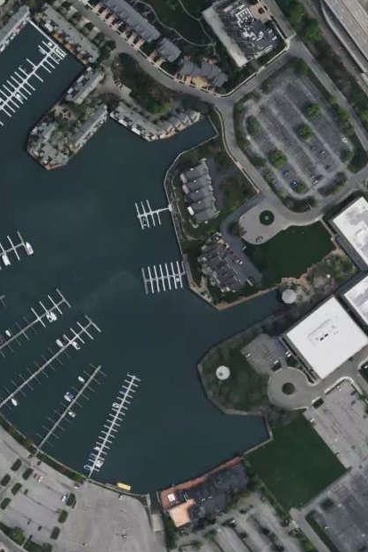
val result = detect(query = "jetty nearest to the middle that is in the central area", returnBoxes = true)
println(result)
[142,261,185,294]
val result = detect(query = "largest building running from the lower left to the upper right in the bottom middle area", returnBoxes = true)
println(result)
[182,465,247,517]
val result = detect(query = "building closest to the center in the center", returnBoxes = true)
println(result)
[199,234,246,292]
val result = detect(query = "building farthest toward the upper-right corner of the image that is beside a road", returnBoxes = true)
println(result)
[198,0,280,67]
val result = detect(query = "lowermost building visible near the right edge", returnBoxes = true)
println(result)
[283,296,368,380]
